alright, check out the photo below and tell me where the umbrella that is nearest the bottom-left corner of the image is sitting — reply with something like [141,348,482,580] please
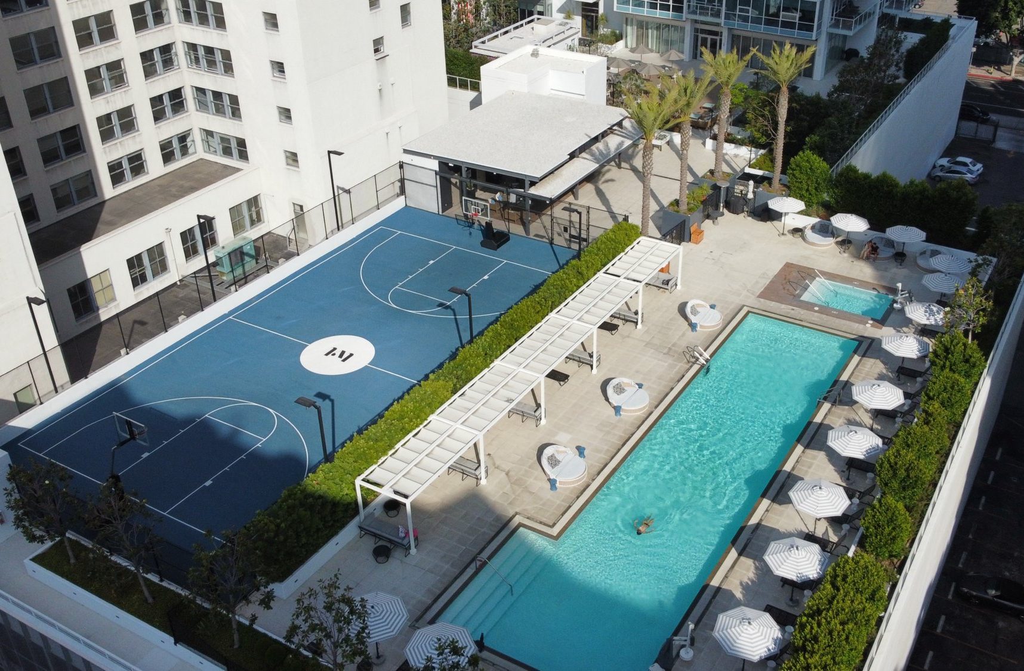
[349,592,417,665]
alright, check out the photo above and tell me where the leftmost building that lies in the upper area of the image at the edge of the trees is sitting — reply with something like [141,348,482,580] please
[0,0,448,424]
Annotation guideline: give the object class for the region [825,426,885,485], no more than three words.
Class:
umbrella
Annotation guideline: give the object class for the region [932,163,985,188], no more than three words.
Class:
car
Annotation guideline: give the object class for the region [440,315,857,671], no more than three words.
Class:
swimming pool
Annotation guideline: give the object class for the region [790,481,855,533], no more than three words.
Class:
umbrella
